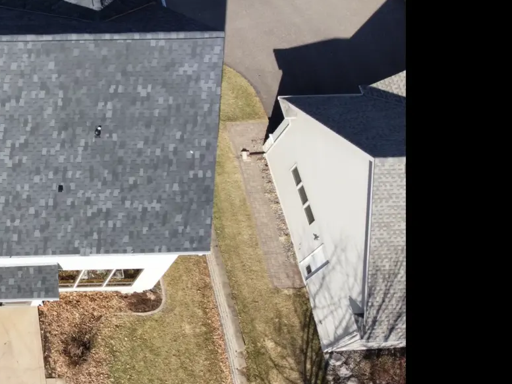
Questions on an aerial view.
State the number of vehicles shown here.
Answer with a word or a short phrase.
zero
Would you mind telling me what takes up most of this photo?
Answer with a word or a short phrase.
buildings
